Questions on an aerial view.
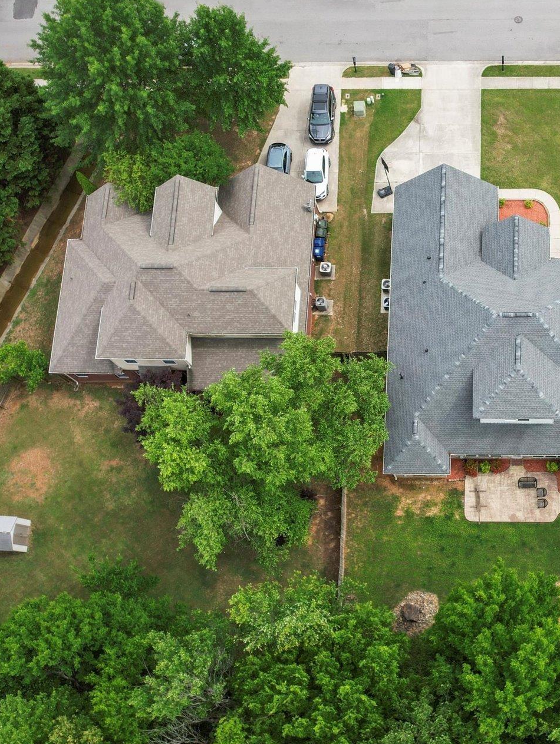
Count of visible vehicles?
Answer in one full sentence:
Looking from above, you can make out 3 vehicles.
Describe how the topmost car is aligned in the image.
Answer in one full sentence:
From this overhead view, the topmost car appears to run from top to bottom.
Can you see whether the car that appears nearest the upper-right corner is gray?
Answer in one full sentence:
Yes, the car that appears nearest the upper-right corner appears gray.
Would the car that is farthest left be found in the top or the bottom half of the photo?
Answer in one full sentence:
The top half of the photo is where the car that is farthest left is.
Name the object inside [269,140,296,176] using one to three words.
car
